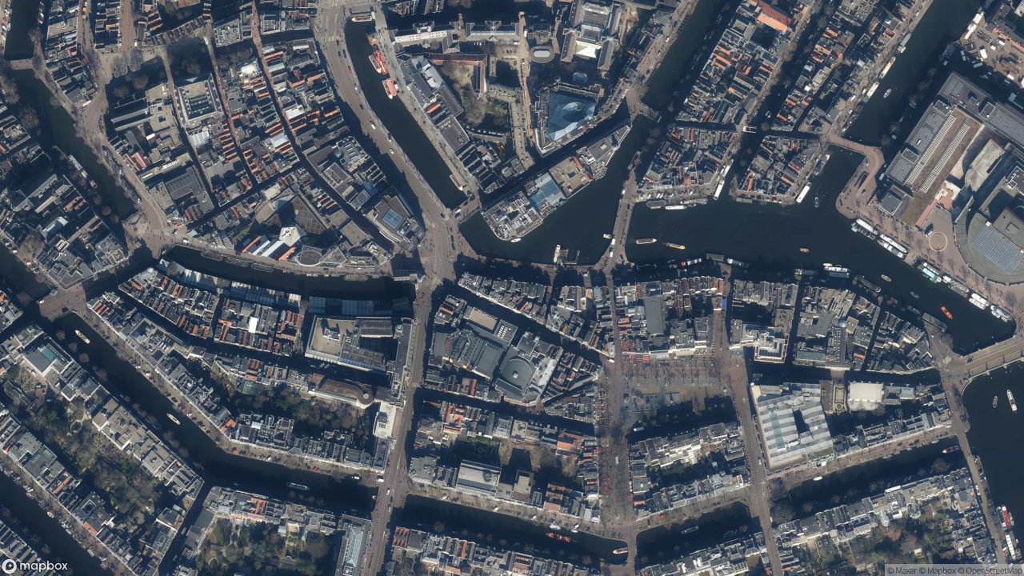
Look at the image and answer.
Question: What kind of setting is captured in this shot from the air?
residential area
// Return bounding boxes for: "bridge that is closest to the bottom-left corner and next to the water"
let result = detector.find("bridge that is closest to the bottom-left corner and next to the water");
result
[35,292,74,323]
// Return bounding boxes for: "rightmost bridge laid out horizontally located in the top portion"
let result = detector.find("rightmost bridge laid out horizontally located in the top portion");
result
[827,133,883,159]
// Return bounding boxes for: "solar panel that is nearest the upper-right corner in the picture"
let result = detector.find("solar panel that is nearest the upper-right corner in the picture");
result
[973,226,1024,273]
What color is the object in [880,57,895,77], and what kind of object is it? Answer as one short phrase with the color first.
white boat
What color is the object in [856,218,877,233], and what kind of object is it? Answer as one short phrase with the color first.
white boat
